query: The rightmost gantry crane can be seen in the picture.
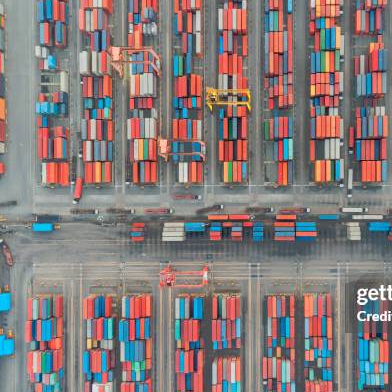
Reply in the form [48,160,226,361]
[204,88,250,114]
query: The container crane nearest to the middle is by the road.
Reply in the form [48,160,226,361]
[155,139,207,161]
